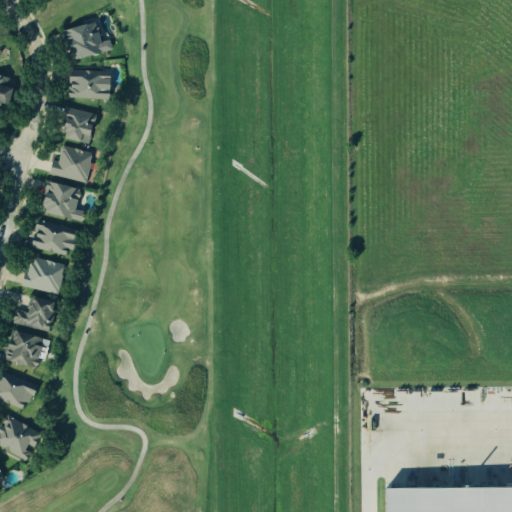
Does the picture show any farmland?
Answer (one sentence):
Yes, there's farmland in this view.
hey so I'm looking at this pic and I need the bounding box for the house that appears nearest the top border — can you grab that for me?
[64,21,114,60]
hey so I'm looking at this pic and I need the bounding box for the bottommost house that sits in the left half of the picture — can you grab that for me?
[0,415,40,460]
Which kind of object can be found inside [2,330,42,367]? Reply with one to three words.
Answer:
house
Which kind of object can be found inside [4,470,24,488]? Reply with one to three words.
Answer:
swimming pool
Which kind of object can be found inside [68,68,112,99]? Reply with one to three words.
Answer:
house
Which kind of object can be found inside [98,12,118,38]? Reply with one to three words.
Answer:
swimming pool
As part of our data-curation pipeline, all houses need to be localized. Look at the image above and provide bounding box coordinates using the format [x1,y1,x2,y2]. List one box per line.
[68,68,112,99]
[48,144,92,184]
[13,298,57,330]
[0,74,14,104]
[2,330,42,367]
[0,415,40,460]
[64,21,114,60]
[21,258,64,294]
[32,224,75,258]
[42,182,84,222]
[62,107,98,144]
[0,373,38,408]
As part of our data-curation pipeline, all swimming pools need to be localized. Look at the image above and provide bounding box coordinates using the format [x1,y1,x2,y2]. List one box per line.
[82,192,98,212]
[4,470,24,488]
[111,64,122,92]
[98,12,118,38]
